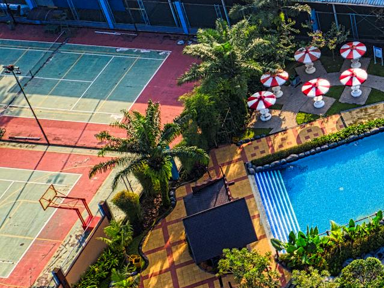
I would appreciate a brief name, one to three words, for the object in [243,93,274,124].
umbrella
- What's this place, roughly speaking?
sports ground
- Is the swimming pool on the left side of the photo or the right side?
right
